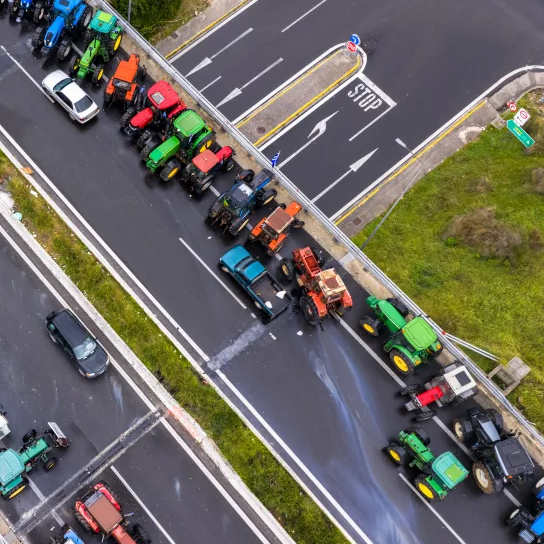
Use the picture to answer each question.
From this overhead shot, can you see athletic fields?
No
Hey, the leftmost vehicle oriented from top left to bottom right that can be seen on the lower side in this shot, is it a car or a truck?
car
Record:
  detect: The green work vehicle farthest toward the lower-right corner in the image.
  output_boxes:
[384,427,469,508]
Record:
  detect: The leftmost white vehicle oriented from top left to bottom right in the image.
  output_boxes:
[40,70,104,126]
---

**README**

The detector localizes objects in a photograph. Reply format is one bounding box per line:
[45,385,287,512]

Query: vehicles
[282,247,357,323]
[72,484,151,544]
[447,404,538,496]
[247,202,307,258]
[33,0,94,63]
[43,306,109,380]
[121,79,187,144]
[69,11,124,90]
[40,70,104,126]
[401,363,477,424]
[10,0,47,21]
[138,108,214,181]
[101,54,145,116]
[0,424,74,504]
[384,427,469,508]
[177,147,237,200]
[214,247,294,322]
[206,163,284,236]
[355,294,441,375]
[501,475,544,544]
